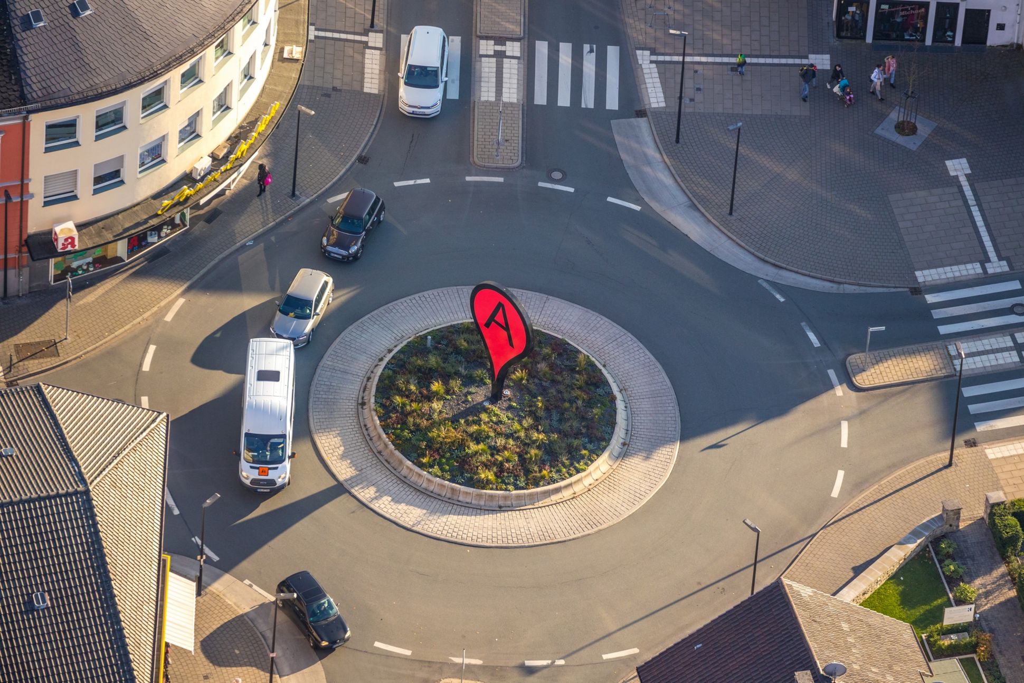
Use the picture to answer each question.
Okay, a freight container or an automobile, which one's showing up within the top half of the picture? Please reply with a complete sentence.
There is an automobile within the top half of the picture.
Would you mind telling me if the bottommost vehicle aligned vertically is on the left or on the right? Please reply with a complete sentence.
The bottommost vehicle aligned vertically is on the left side of the image.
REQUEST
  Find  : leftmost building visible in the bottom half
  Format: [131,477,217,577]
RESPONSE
[0,379,172,683]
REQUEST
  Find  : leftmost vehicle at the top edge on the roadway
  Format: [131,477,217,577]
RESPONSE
[396,26,449,118]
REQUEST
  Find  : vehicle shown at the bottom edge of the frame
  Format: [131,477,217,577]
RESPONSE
[281,569,353,650]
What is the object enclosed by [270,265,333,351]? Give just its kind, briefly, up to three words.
car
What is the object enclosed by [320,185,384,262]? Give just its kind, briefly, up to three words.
car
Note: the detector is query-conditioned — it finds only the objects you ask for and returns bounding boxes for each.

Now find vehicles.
[320,185,384,262]
[281,569,353,650]
[235,338,297,491]
[396,26,449,118]
[270,265,333,351]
